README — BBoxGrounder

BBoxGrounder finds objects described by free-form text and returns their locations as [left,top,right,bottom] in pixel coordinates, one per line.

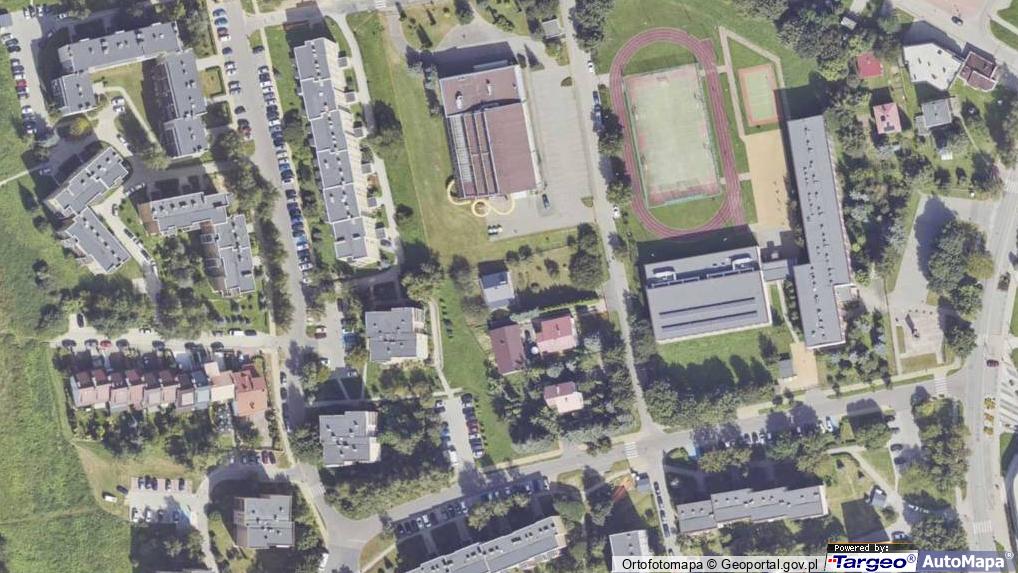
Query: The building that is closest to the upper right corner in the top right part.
[959,52,1001,96]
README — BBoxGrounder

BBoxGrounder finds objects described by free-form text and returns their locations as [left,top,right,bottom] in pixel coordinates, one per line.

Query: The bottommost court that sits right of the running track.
[744,129,791,226]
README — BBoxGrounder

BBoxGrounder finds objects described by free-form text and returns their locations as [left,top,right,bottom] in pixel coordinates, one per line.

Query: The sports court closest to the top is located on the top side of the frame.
[738,64,778,125]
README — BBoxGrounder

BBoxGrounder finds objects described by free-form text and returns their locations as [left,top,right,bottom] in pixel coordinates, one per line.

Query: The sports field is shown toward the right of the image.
[623,65,721,205]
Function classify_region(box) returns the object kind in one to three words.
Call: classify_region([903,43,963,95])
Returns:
building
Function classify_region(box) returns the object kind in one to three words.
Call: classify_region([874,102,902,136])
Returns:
house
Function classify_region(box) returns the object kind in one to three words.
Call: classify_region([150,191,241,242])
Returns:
building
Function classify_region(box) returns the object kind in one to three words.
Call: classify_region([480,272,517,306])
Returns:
house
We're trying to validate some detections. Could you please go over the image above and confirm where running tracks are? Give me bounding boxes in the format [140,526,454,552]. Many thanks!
[610,27,745,241]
